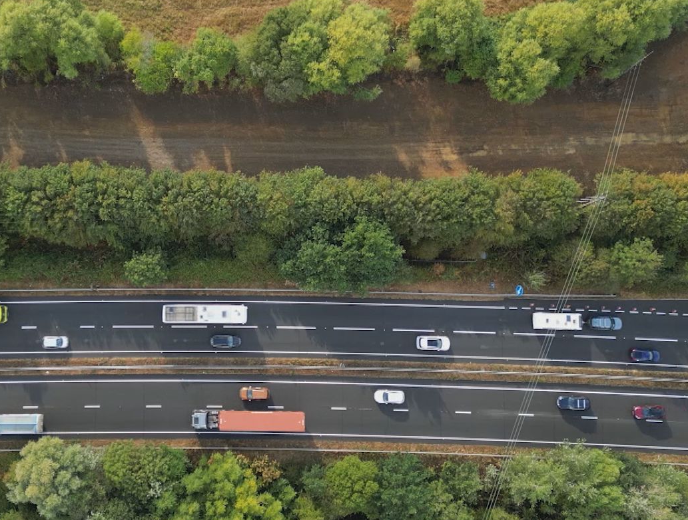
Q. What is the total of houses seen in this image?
0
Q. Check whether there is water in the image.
No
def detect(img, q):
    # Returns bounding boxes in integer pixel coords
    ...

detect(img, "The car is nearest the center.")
[415,336,450,352]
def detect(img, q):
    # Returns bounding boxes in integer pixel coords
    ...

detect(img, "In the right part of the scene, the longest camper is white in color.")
[529,312,585,330]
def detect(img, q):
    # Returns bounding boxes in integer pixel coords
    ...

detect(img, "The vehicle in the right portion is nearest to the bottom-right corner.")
[630,404,665,420]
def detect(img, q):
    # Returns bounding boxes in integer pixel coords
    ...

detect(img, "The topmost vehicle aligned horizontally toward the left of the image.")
[162,304,247,326]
